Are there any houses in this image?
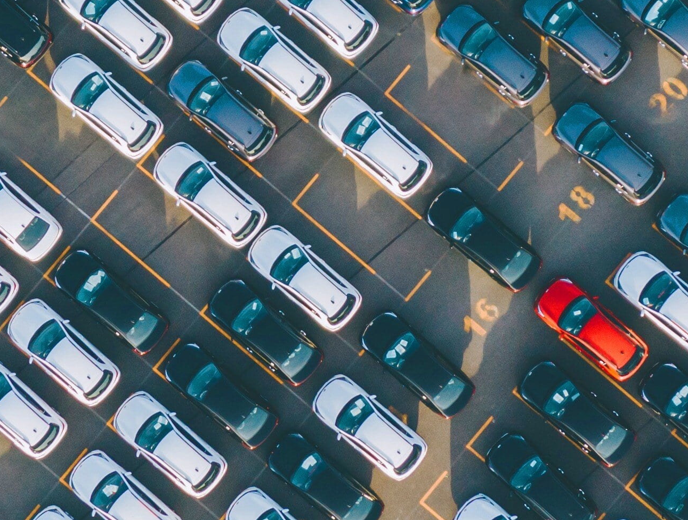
No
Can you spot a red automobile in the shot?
Yes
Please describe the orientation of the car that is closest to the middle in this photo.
at an angle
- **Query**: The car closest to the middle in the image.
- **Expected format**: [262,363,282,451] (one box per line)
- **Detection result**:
[249,227,364,332]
